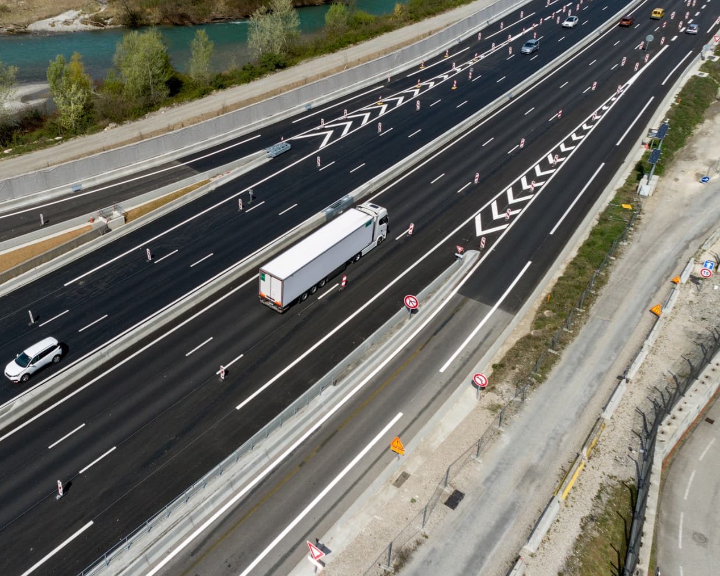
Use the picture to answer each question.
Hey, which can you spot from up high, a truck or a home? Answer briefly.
truck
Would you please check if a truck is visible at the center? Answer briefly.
Yes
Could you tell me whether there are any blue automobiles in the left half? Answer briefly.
No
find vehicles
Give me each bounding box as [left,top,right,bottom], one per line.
[650,7,666,20]
[259,207,391,314]
[562,16,578,29]
[619,18,635,29]
[684,26,701,36]
[521,42,540,54]
[3,336,66,382]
